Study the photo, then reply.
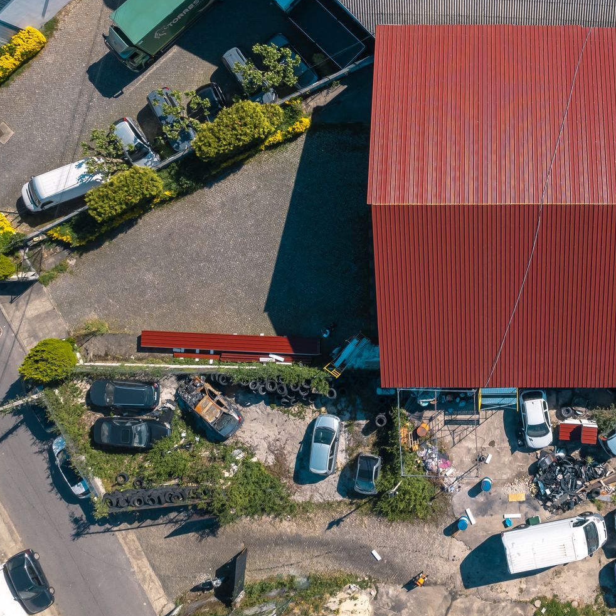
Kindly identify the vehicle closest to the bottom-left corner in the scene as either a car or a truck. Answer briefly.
car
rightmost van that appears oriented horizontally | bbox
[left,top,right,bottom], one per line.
[508,510,608,568]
